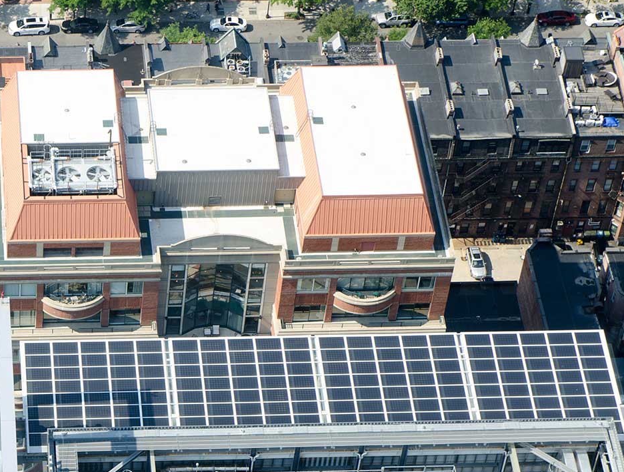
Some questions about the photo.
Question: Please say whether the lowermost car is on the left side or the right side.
right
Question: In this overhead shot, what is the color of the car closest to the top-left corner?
white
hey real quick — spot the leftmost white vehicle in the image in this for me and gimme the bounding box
[8,16,48,36]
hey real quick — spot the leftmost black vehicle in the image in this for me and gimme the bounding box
[60,18,97,34]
